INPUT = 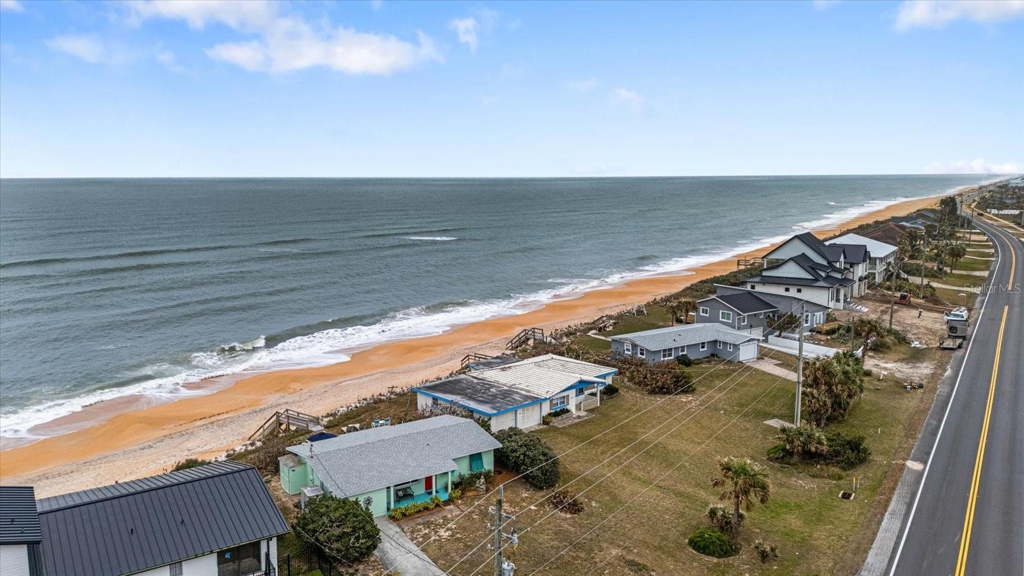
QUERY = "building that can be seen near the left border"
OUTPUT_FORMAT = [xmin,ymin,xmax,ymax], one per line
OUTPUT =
[0,455,287,576]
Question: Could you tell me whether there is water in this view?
Yes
